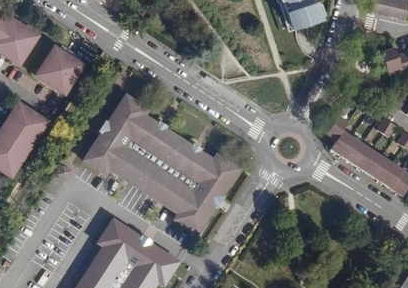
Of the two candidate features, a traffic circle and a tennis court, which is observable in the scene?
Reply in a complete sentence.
It is a traffic circle that can be seen here.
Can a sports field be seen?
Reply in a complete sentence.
No, no sports field can be seen from above.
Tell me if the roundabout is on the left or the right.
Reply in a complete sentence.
The roundabout is on the right side of the image.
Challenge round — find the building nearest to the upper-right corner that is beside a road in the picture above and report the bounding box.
[373,0,408,22]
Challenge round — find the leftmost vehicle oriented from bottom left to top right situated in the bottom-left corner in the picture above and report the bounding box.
[37,268,50,284]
